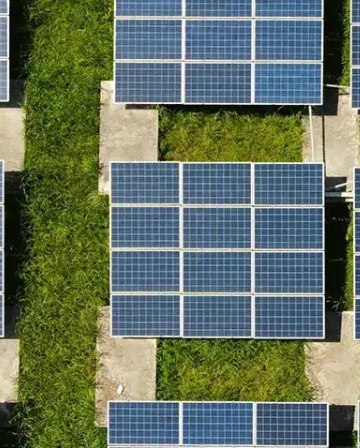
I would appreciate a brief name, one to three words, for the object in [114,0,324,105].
solar array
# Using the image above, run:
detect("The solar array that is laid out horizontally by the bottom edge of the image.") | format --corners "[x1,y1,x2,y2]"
[107,399,329,448]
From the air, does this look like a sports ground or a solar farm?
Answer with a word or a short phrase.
solar farm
